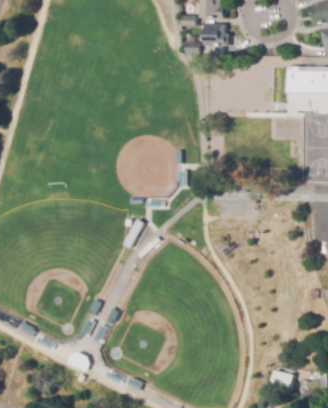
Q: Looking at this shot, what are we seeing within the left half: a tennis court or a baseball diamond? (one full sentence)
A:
What appears within the left half is a baseball diamond.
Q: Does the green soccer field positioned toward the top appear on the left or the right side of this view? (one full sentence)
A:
The green soccer field positioned toward the top is on the left side of the image.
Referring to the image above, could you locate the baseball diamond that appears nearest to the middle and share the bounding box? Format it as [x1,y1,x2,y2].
[117,134,180,197]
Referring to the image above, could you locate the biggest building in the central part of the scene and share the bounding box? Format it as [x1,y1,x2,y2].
[122,217,145,248]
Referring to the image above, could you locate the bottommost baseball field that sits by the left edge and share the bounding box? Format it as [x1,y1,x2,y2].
[0,200,128,344]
